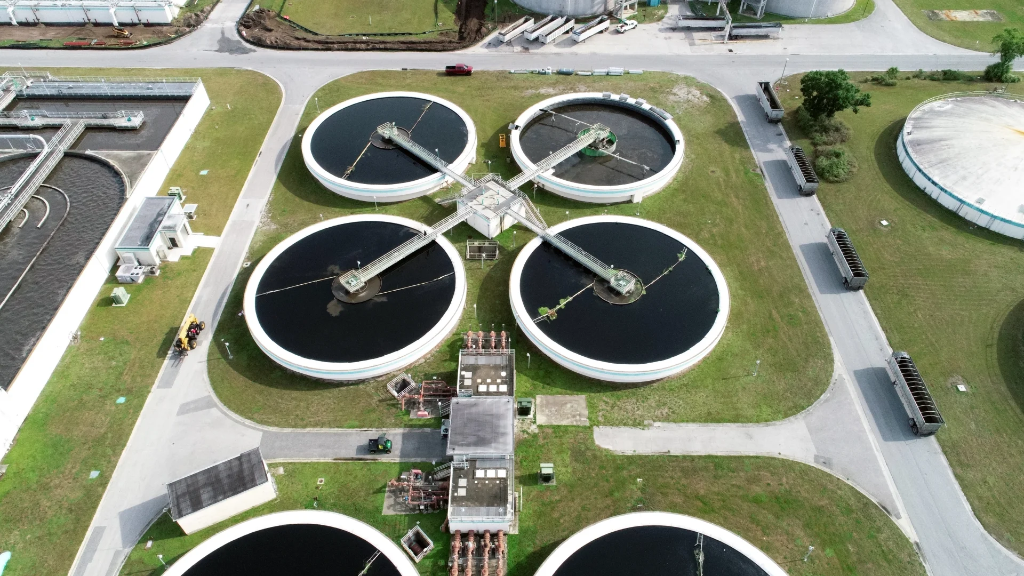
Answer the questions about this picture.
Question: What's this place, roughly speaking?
industrial area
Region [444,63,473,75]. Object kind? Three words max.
vehicle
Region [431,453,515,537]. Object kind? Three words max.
building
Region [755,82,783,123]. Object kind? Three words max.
trailer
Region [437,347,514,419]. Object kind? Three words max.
building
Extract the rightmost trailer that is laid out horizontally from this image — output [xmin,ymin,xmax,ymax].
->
[728,23,782,42]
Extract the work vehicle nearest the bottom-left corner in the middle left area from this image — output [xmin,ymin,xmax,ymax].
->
[171,312,203,360]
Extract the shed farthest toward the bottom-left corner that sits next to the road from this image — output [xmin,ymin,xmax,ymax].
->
[165,443,276,534]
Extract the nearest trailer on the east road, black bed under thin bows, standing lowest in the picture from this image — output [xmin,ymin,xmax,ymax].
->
[884,353,946,436]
